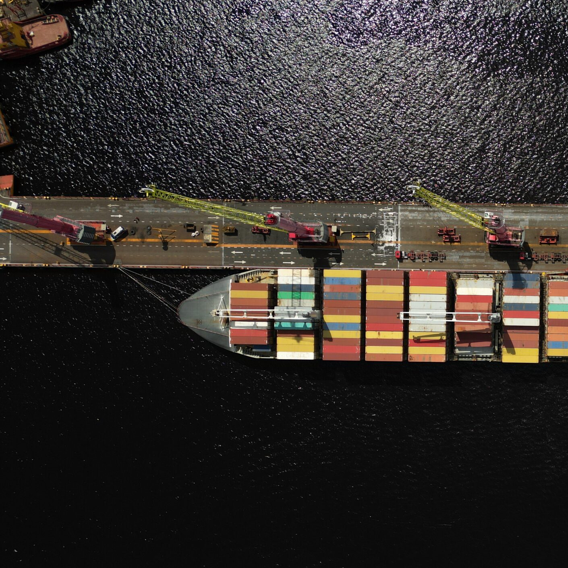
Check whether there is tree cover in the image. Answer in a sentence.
No, the picture contains no tree cover.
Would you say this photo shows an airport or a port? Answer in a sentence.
It's a port.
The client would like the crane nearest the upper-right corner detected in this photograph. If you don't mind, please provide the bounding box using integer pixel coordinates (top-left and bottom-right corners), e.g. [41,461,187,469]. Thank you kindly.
[407,180,528,252]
